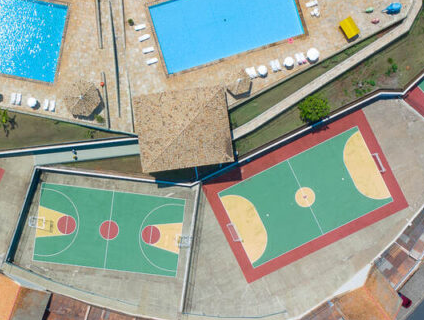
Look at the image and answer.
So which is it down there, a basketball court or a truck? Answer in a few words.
basketball court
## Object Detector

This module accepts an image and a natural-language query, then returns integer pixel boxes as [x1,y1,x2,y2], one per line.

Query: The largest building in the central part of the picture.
[133,86,234,173]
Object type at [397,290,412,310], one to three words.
car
